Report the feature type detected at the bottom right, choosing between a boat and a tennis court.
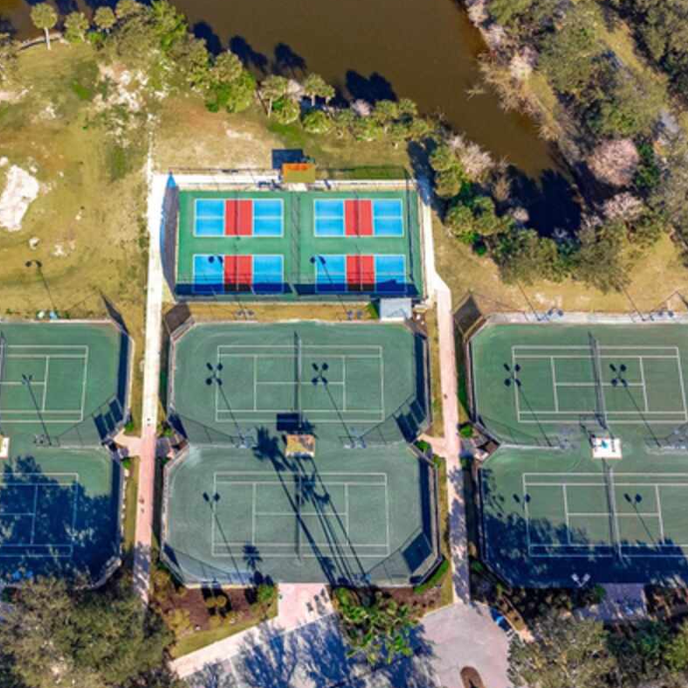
tennis court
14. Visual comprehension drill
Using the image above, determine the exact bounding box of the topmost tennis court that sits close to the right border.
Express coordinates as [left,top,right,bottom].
[471,320,688,447]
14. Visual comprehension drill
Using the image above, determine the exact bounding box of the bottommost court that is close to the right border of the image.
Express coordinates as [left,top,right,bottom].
[479,446,688,585]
